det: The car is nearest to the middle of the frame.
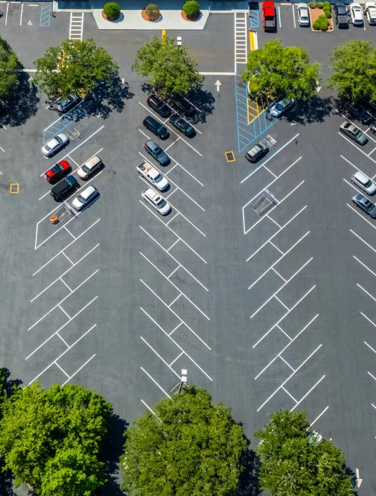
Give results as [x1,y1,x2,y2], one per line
[140,185,171,216]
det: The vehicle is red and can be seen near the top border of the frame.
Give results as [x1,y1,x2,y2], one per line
[262,0,276,29]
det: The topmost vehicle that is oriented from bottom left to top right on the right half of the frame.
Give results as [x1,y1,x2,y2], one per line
[267,93,298,120]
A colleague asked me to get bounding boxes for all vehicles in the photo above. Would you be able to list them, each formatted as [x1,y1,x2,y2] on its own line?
[243,139,272,163]
[349,190,376,222]
[141,138,171,168]
[73,185,101,212]
[167,113,198,140]
[337,119,369,146]
[50,175,77,199]
[142,115,169,140]
[55,94,81,114]
[297,3,310,27]
[366,120,376,137]
[262,0,276,29]
[140,185,171,216]
[168,92,196,118]
[349,2,365,27]
[76,153,104,179]
[267,93,298,120]
[39,133,70,159]
[143,92,173,121]
[349,169,376,197]
[333,0,350,28]
[363,2,376,27]
[341,100,373,125]
[133,158,171,194]
[44,161,69,183]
